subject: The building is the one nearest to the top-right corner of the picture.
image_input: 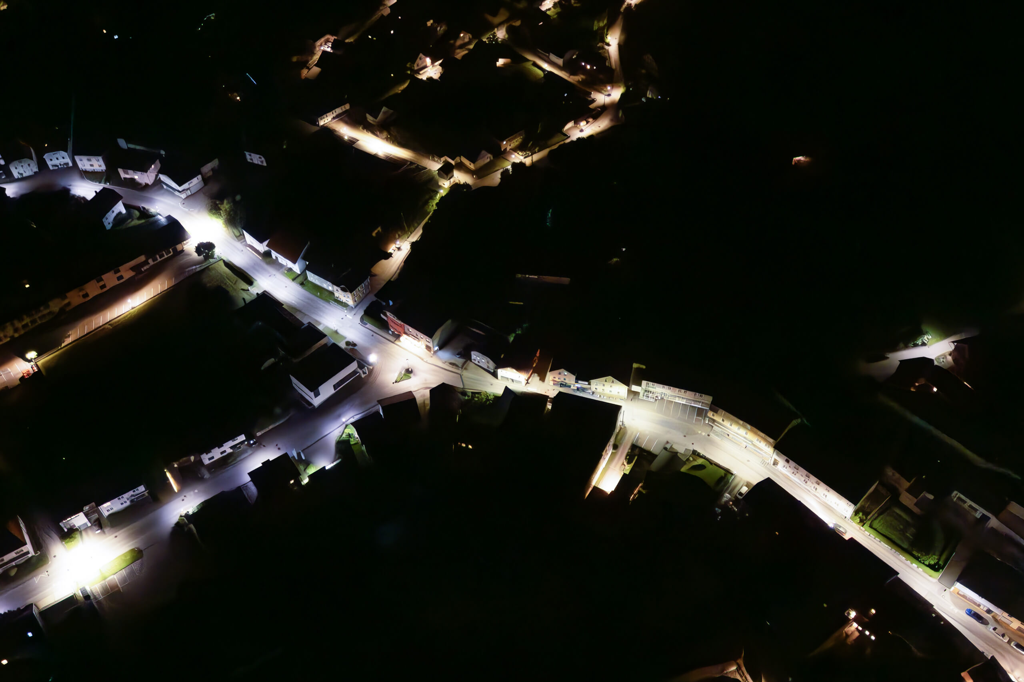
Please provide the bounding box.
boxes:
[772,138,814,167]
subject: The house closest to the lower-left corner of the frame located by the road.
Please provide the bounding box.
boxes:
[0,617,52,678]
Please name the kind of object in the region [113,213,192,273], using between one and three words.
building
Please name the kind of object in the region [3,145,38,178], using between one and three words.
house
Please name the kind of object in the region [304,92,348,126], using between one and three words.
house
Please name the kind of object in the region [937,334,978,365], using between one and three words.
shed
